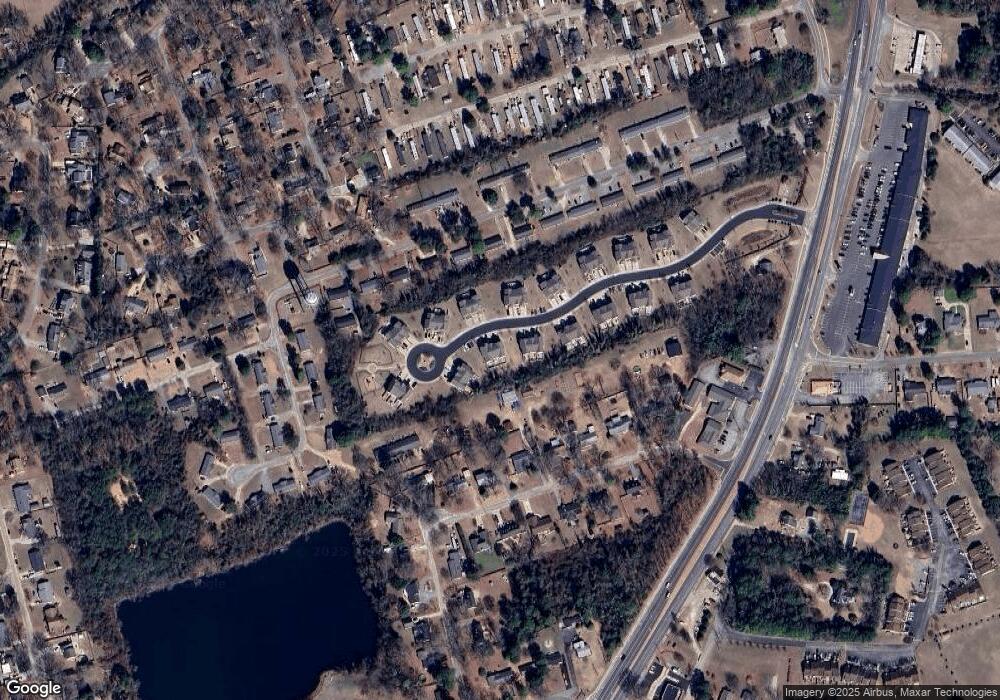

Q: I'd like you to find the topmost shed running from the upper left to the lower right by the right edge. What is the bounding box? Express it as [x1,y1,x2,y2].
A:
[943,127,995,180]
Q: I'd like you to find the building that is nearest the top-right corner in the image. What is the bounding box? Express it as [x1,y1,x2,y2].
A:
[913,35,926,73]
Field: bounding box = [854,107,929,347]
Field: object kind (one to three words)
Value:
building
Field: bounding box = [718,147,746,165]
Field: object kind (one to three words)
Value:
building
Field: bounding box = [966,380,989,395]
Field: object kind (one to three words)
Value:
house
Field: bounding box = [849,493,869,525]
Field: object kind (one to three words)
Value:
sports court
